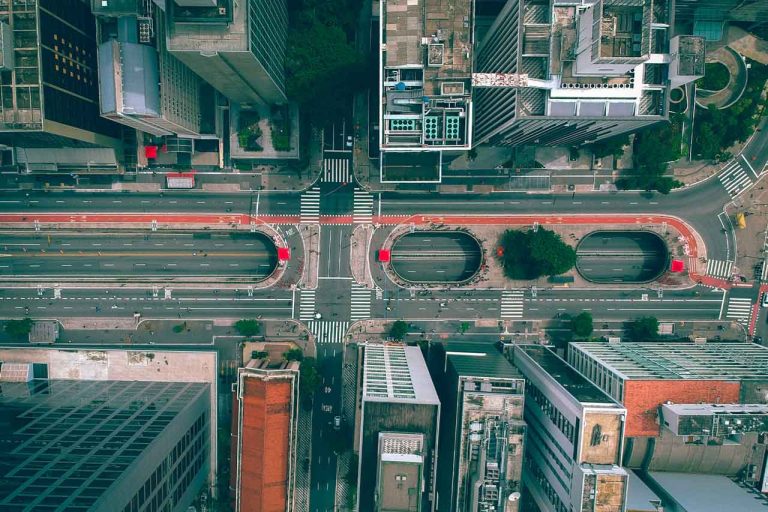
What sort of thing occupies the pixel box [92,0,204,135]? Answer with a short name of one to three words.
building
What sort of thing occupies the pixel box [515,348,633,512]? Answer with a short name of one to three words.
building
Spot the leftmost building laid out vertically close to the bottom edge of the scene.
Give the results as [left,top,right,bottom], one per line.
[228,345,305,512]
